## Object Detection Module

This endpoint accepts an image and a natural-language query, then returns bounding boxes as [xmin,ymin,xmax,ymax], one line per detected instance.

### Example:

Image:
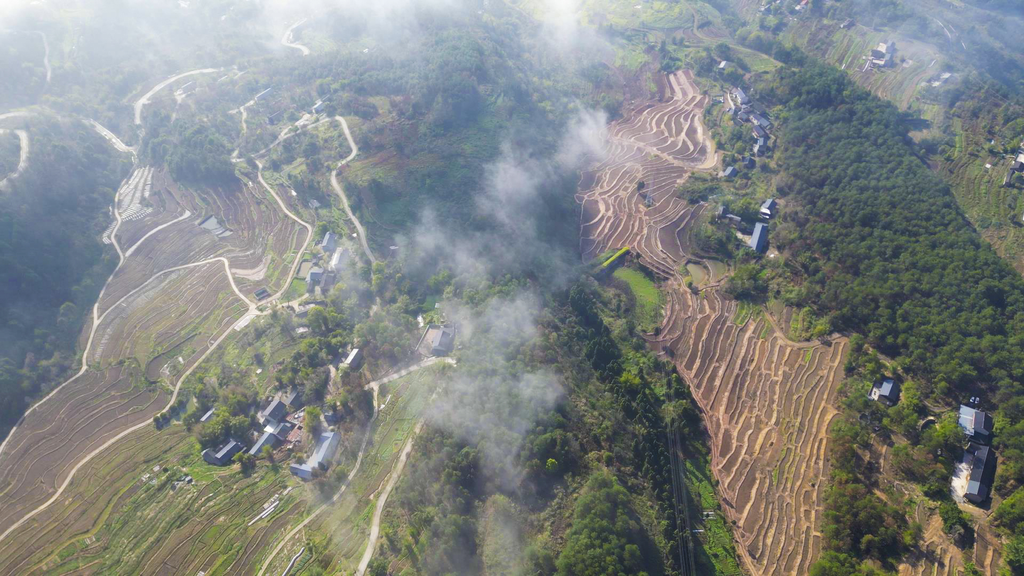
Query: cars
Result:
[973,397,982,405]
[968,396,977,405]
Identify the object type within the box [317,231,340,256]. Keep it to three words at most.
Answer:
house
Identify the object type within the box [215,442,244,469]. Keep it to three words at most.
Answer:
house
